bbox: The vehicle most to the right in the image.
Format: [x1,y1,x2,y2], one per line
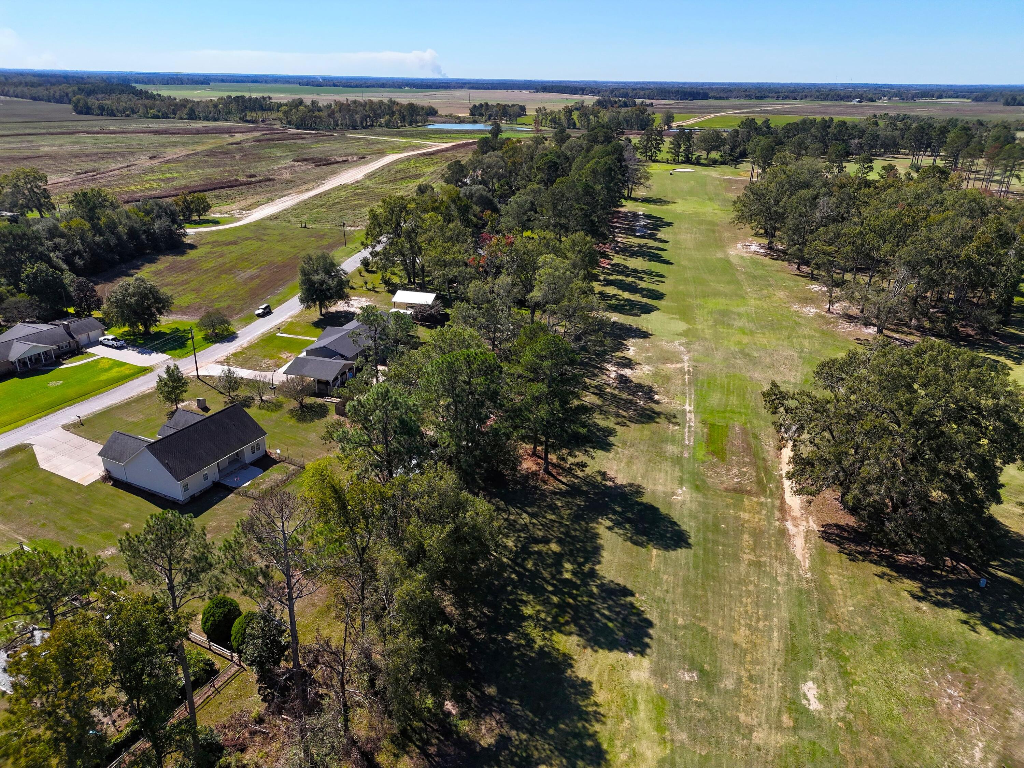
[254,303,273,316]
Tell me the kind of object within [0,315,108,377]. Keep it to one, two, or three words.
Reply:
house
